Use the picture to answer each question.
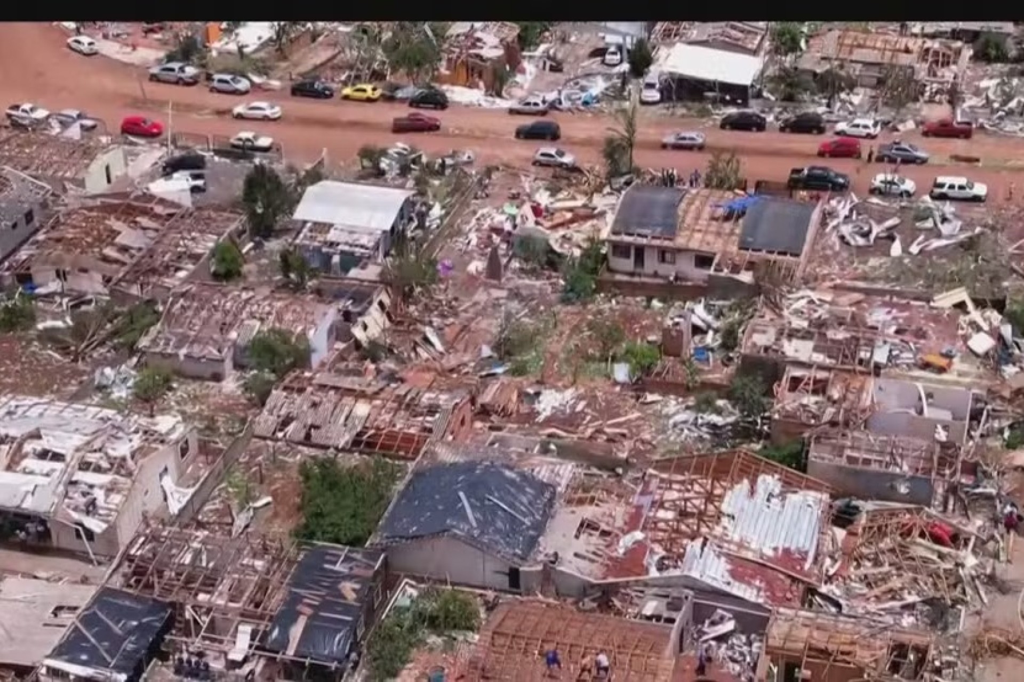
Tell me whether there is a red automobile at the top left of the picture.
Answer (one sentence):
Yes, a red automobile shows up at the top left of the picture.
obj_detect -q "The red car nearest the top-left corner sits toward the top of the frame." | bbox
[118,115,165,140]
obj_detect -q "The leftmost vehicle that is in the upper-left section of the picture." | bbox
[2,104,53,129]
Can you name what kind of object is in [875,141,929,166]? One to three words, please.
car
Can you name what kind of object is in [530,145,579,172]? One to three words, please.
car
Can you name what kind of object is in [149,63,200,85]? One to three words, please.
truck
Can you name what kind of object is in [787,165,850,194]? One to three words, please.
truck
